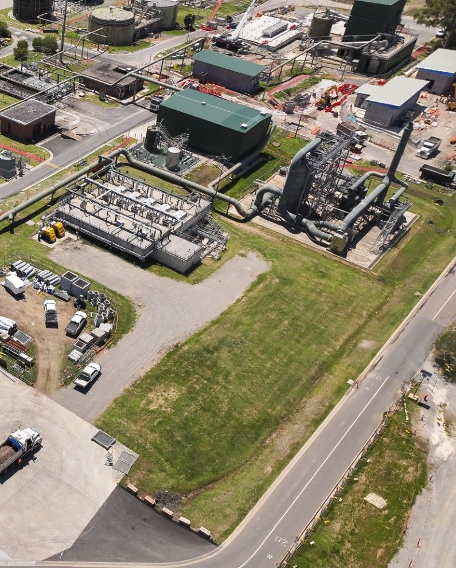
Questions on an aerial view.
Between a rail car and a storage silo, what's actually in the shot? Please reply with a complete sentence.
There is a storage silo in the scene.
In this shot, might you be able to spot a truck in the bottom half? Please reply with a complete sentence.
Yes, in the bottom half there is a truck.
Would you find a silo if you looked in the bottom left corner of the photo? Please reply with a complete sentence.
No, looking in the bottom left corner of the photo, there is no silo.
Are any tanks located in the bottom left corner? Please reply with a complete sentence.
No, looking in the bottom left corner, there is no tank.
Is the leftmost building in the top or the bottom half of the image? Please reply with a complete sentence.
It is in the top half that the leftmost building appears.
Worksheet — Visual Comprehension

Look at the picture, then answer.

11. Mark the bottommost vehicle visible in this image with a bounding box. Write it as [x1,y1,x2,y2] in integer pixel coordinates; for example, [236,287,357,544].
[0,431,42,482]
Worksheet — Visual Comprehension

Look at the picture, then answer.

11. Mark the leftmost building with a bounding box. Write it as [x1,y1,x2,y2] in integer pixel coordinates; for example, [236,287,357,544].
[0,99,59,139]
